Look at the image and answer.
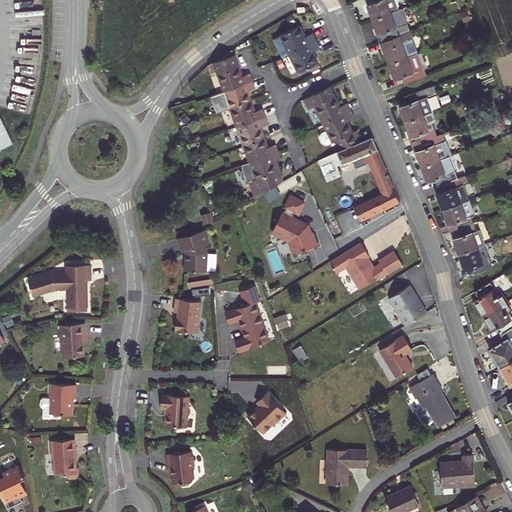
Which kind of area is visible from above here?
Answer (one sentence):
What you see here is a residential area.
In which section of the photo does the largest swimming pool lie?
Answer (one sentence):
The largest swimming pool appears toward the center of the photo.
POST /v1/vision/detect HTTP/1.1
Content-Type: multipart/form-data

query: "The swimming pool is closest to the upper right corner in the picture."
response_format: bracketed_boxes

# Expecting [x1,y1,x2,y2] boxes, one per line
[338,194,353,208]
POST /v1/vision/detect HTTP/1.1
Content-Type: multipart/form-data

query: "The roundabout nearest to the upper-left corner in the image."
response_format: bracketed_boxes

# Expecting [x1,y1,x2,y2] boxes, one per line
[48,102,146,200]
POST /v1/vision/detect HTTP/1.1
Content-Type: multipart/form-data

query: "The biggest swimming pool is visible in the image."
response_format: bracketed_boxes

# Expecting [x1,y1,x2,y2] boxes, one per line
[266,246,286,277]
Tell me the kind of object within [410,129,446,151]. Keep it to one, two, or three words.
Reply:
building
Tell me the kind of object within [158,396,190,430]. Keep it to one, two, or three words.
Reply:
house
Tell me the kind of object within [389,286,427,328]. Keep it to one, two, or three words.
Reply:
house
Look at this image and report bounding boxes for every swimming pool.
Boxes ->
[338,194,353,208]
[266,246,286,277]
[201,340,212,353]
